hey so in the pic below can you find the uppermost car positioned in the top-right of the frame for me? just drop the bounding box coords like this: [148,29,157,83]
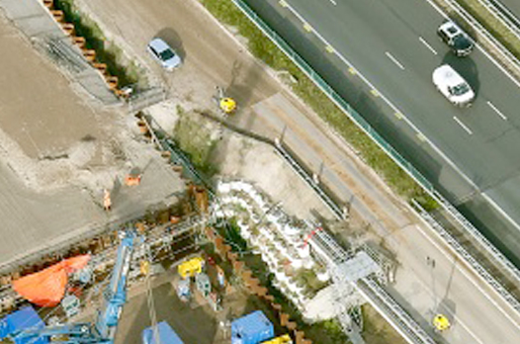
[437,20,476,58]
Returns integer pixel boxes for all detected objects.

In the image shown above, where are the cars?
[145,37,181,72]
[437,20,476,58]
[432,66,475,107]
